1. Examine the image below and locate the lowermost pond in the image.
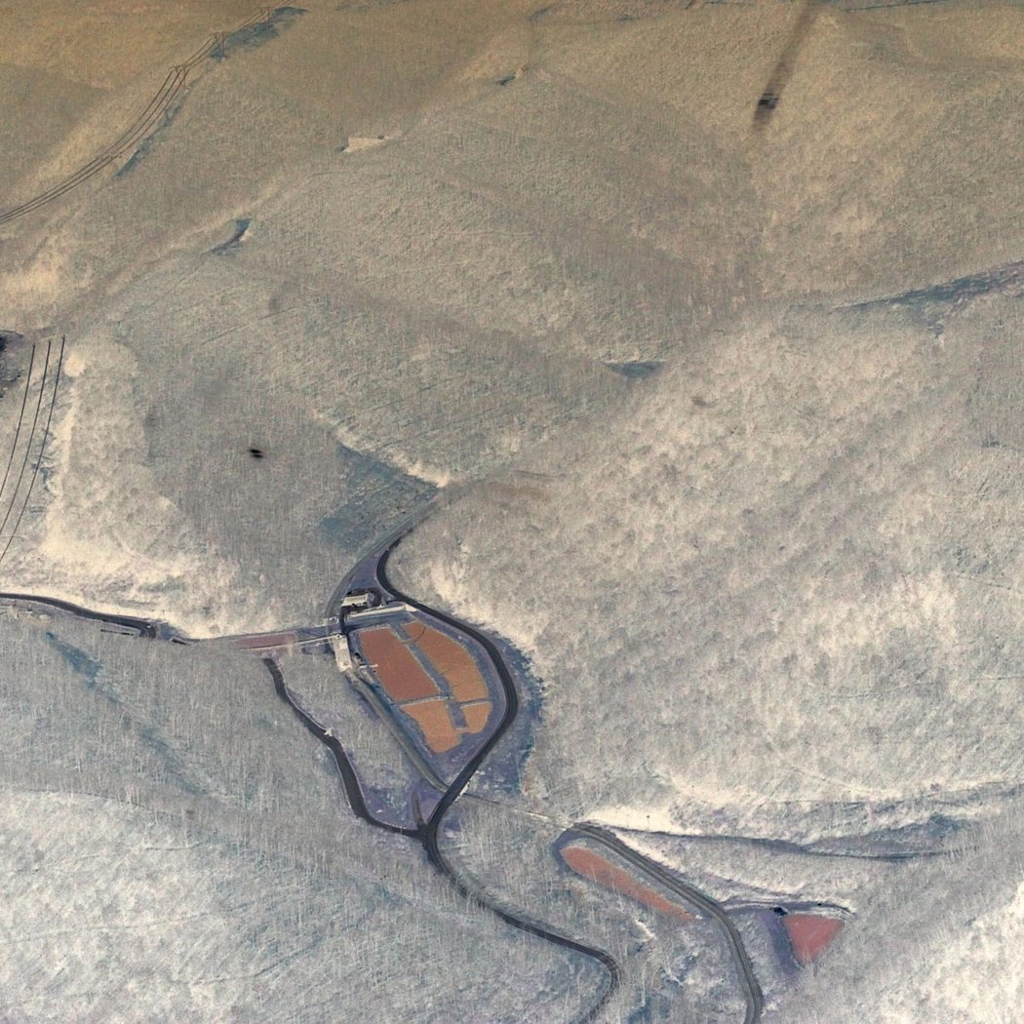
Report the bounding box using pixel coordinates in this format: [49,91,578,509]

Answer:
[783,912,846,965]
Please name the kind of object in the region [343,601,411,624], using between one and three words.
shed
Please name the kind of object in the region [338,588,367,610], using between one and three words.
building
